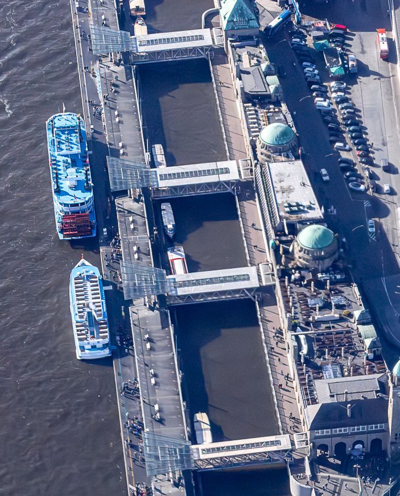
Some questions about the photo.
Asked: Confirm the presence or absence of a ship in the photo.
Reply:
Yes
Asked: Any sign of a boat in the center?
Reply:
Yes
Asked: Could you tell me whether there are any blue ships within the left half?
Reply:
Yes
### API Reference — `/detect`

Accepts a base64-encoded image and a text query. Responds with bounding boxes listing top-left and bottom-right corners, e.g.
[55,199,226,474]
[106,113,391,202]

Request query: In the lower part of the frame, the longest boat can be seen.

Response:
[69,254,112,361]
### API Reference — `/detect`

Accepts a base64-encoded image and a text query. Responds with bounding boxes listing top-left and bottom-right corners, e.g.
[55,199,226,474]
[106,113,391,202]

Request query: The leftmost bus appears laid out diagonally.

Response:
[260,9,289,35]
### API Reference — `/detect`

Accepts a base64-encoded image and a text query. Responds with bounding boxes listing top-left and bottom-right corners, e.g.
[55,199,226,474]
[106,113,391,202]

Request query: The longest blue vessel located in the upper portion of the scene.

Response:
[46,106,96,245]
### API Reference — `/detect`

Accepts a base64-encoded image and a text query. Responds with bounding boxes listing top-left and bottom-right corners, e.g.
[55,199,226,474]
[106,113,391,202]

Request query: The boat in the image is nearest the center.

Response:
[166,245,189,275]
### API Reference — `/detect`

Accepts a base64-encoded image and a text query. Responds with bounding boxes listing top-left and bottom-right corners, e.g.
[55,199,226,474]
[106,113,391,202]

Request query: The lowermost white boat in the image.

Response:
[192,409,215,445]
